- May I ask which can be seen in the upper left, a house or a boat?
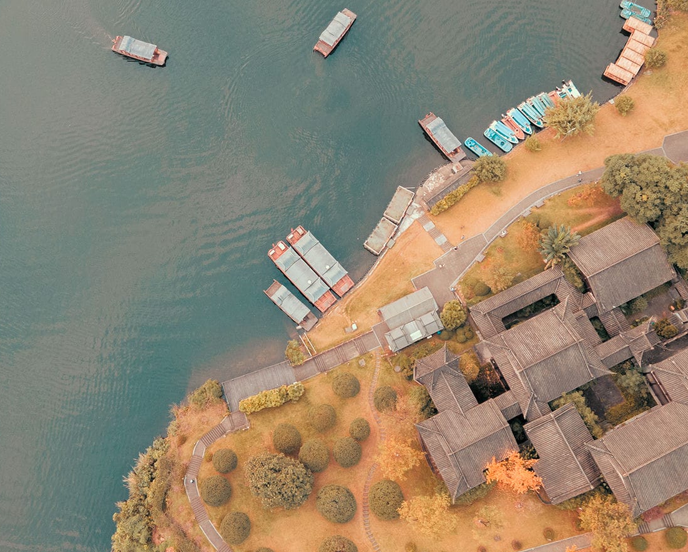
boat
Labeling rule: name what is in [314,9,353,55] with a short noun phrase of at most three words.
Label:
boat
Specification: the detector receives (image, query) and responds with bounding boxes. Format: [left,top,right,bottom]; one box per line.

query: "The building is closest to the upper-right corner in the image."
[566,217,675,313]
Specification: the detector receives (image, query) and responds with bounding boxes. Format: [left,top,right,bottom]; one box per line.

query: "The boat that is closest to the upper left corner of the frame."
[110,33,168,63]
